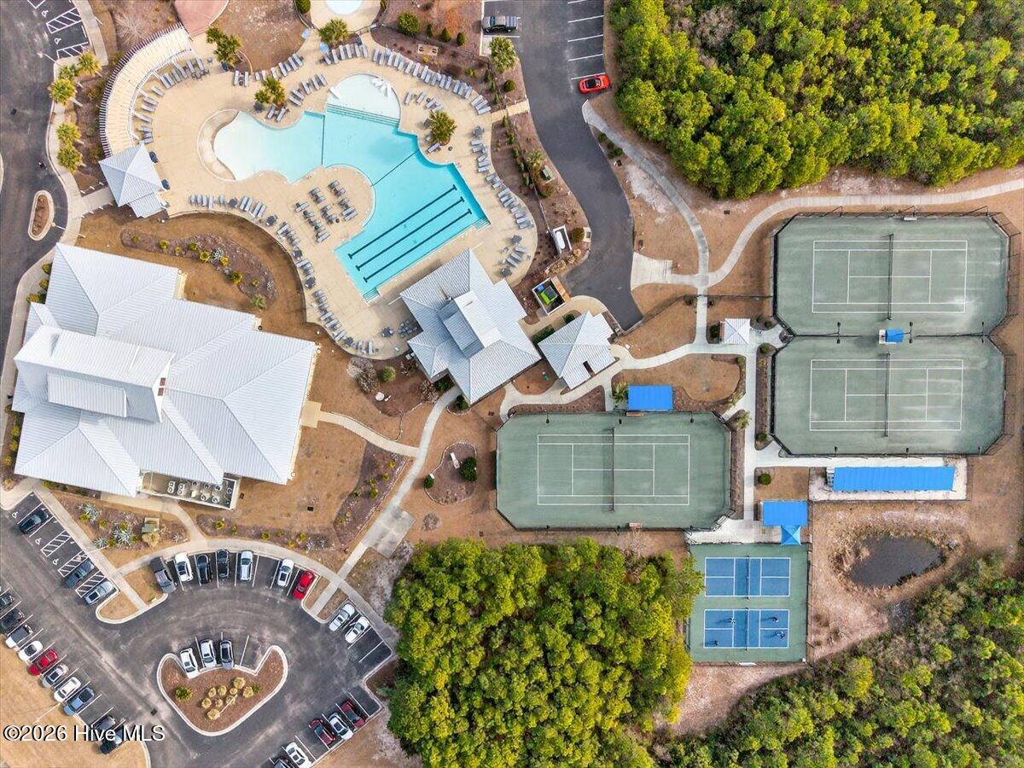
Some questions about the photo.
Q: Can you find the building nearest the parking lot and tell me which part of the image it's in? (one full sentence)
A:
The building nearest the parking lot is located in the left region of the scene.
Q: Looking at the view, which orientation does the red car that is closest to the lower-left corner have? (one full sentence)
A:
What the image shows is the red car that is closest to the lower-left corner lying at an angle.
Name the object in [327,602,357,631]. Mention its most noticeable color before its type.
white car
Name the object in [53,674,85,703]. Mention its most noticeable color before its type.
white car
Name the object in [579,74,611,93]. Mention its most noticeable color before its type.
red car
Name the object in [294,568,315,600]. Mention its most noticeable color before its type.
red car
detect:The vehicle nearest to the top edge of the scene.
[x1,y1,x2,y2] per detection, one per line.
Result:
[482,15,519,33]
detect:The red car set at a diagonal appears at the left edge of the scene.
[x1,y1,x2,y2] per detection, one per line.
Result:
[30,648,61,674]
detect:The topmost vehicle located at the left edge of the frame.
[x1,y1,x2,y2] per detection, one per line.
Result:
[19,507,52,534]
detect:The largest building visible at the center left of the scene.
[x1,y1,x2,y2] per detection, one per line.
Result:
[11,244,317,511]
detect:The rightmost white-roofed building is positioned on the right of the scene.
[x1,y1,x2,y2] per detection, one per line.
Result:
[719,318,751,344]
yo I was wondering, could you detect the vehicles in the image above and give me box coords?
[327,602,357,631]
[284,739,312,768]
[343,614,372,643]
[0,605,30,632]
[41,661,72,688]
[219,638,235,669]
[86,579,118,605]
[173,551,193,583]
[100,723,132,751]
[214,547,231,579]
[309,716,337,748]
[64,560,95,586]
[53,674,85,703]
[339,698,366,730]
[201,636,218,669]
[30,648,61,674]
[194,552,213,584]
[17,637,48,663]
[4,621,37,649]
[156,556,178,592]
[19,507,52,534]
[277,557,295,588]
[66,686,97,713]
[238,549,255,581]
[482,15,519,33]
[88,711,120,739]
[579,74,611,93]
[294,568,315,600]
[328,710,355,740]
